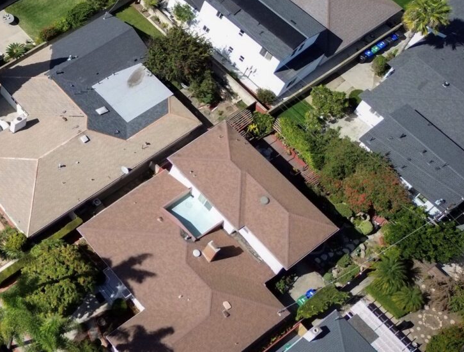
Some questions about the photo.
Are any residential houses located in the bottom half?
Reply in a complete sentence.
Yes, a residential house shows up in the bottom half.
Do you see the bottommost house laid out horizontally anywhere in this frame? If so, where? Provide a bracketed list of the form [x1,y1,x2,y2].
[276,309,378,352]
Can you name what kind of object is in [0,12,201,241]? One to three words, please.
house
